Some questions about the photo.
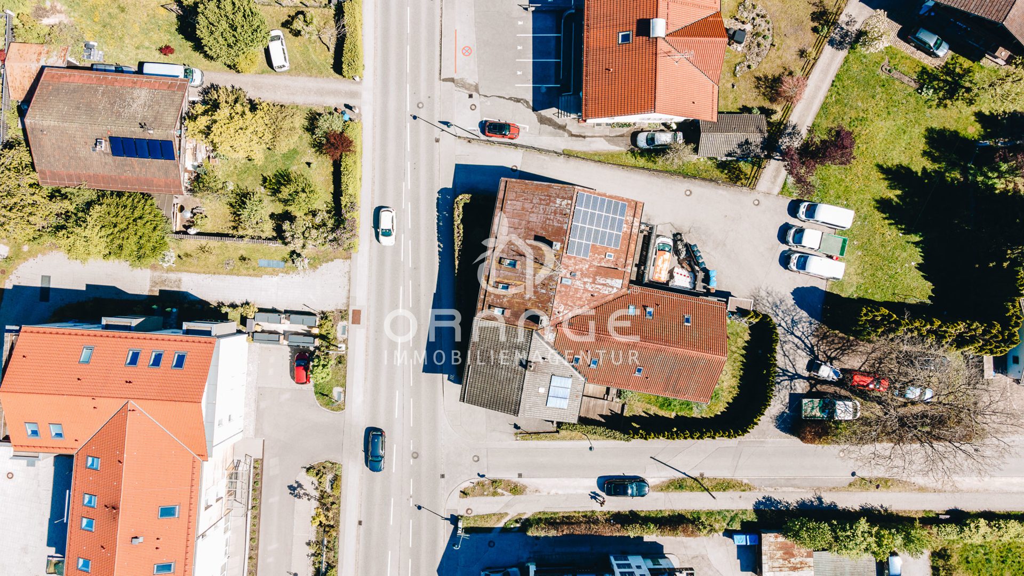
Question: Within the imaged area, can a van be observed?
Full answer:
Yes, the picture does show a van.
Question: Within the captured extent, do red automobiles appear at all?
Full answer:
Yes, I can see a red automobile in this picture.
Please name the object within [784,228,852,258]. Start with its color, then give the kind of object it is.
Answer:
white truck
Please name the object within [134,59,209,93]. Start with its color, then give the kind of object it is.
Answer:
white van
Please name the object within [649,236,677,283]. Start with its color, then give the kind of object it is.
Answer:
white van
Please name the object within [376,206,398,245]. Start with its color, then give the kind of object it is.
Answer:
white car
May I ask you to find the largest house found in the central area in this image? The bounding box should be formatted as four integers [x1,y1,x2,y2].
[459,178,728,430]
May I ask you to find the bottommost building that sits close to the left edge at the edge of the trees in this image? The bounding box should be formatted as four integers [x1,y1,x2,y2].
[0,317,248,576]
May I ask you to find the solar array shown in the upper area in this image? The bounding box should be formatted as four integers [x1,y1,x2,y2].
[567,192,628,258]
